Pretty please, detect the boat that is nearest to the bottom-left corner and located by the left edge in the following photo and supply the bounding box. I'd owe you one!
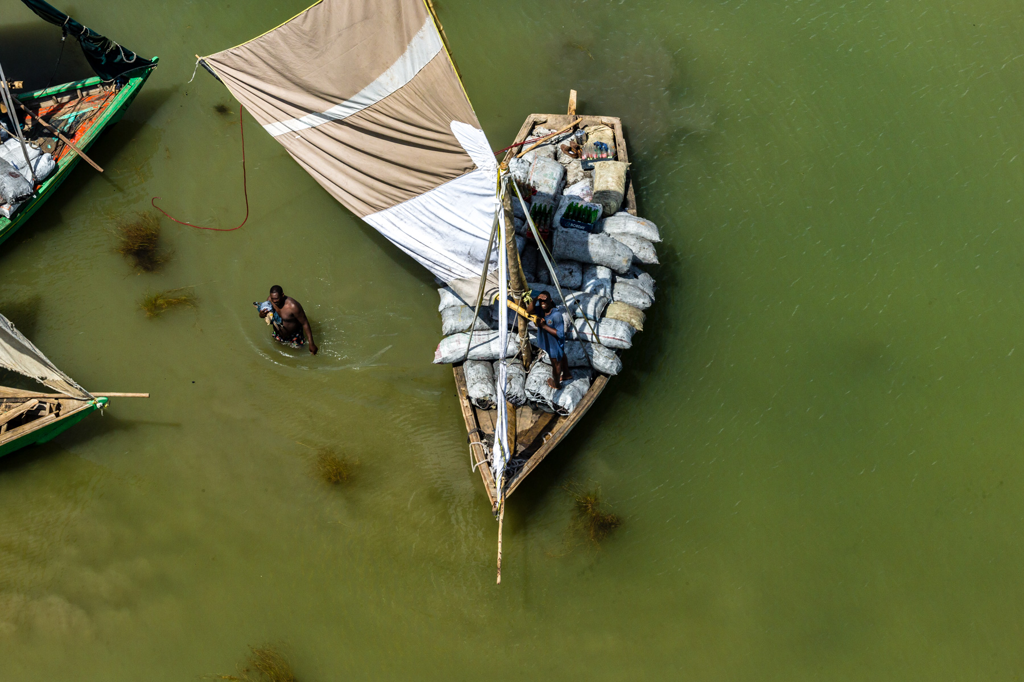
[0,313,149,474]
